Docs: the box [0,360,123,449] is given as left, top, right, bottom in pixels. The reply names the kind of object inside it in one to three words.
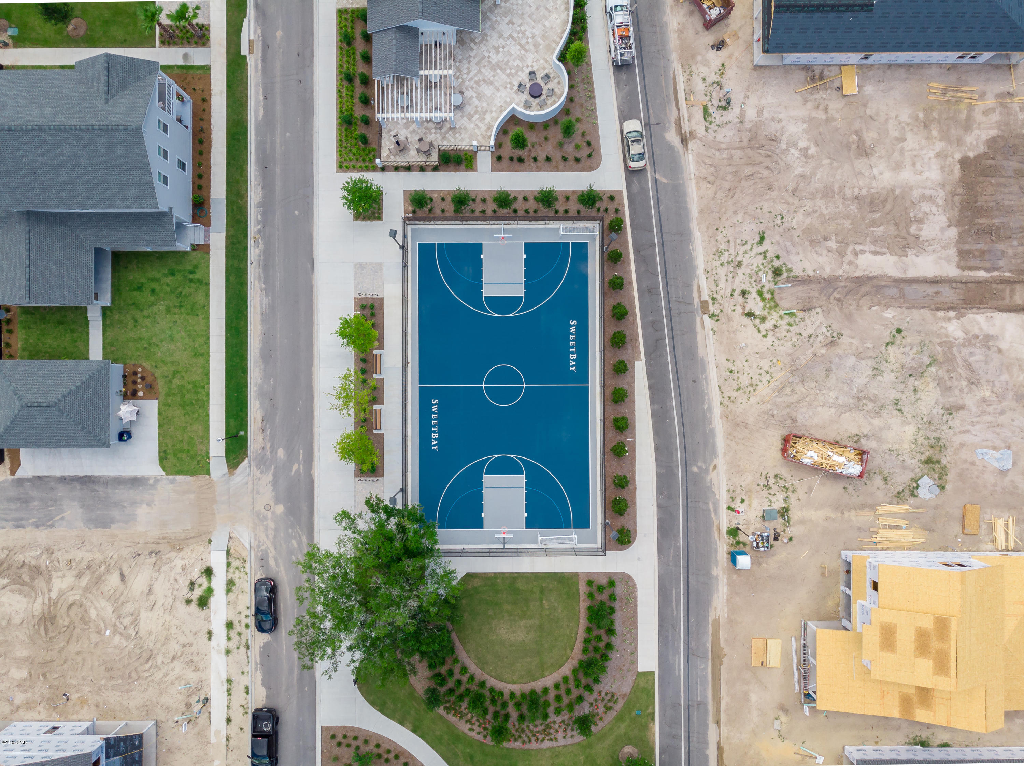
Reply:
building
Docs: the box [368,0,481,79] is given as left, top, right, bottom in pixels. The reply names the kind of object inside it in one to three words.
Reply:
building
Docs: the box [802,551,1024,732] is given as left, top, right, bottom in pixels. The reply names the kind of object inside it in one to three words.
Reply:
house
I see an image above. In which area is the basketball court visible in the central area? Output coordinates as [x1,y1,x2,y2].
[408,224,601,549]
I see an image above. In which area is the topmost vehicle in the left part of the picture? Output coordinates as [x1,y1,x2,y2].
[250,577,277,634]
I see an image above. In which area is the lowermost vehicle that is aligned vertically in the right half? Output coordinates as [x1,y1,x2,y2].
[623,116,648,170]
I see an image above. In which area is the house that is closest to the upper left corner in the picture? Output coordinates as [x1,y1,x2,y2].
[0,52,204,320]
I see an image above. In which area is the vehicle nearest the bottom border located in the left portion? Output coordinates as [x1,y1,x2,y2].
[248,704,279,766]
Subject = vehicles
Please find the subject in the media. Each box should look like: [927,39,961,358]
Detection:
[248,704,279,766]
[250,577,277,634]
[623,116,648,170]
[604,0,635,66]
